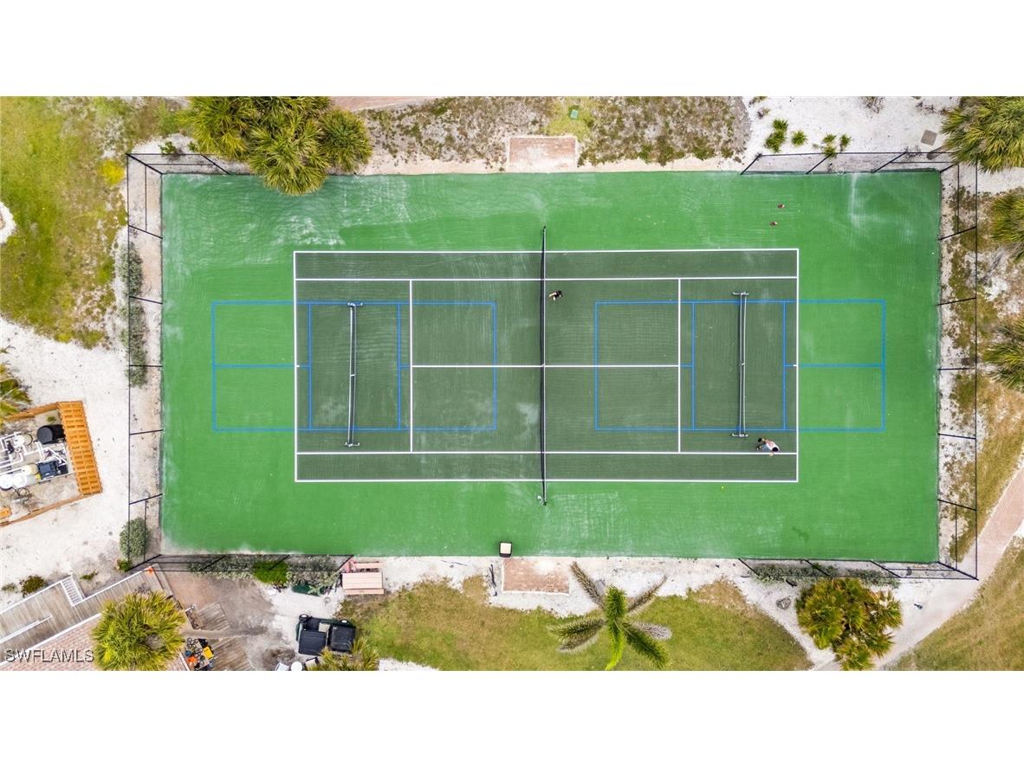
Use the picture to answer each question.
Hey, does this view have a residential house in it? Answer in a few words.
No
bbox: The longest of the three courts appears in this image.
[160,171,941,562]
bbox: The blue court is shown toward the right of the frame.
[595,300,885,431]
